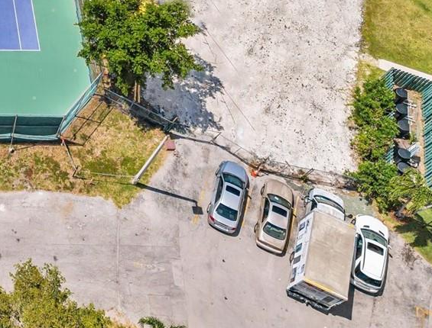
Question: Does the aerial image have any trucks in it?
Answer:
Yes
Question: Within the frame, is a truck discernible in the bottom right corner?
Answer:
Yes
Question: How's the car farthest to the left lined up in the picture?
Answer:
from top to bottom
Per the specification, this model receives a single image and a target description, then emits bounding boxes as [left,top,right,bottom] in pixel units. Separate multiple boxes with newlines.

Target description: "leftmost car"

[206,160,248,237]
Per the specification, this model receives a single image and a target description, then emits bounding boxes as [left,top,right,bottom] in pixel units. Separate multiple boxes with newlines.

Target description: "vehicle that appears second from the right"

[286,180,356,311]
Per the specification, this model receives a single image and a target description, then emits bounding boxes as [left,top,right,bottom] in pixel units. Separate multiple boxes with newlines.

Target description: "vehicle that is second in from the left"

[253,175,296,256]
